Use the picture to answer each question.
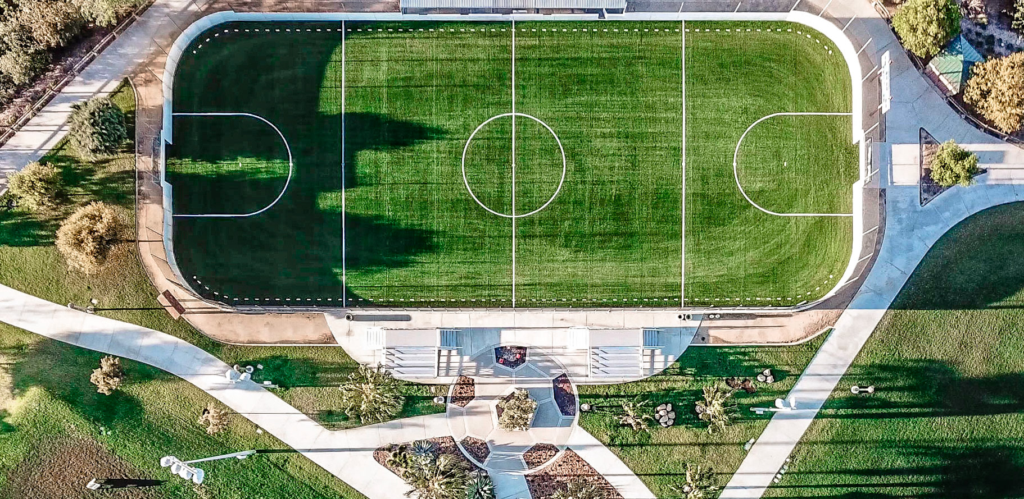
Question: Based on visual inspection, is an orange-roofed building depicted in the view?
No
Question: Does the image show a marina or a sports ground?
sports ground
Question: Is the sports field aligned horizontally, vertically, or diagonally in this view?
horizontally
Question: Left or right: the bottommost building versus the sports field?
on the right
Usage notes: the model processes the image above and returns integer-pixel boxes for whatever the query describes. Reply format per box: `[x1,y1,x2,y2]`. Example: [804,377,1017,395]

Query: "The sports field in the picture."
[167,21,860,307]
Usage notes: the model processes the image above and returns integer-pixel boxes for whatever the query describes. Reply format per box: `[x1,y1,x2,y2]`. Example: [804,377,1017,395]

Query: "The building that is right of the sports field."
[920,34,984,100]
